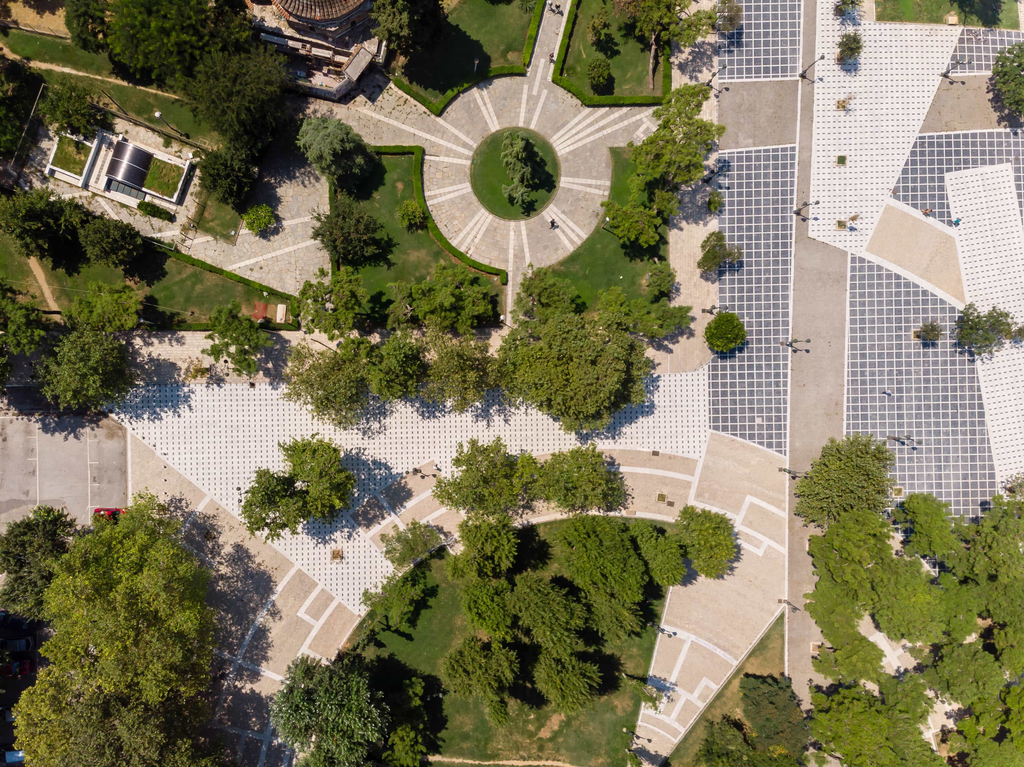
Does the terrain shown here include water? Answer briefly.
No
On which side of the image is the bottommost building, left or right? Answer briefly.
left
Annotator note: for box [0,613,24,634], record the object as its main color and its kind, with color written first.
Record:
black car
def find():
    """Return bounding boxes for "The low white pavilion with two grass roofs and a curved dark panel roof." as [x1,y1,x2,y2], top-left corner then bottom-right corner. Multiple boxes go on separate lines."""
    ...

[43,130,197,211]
